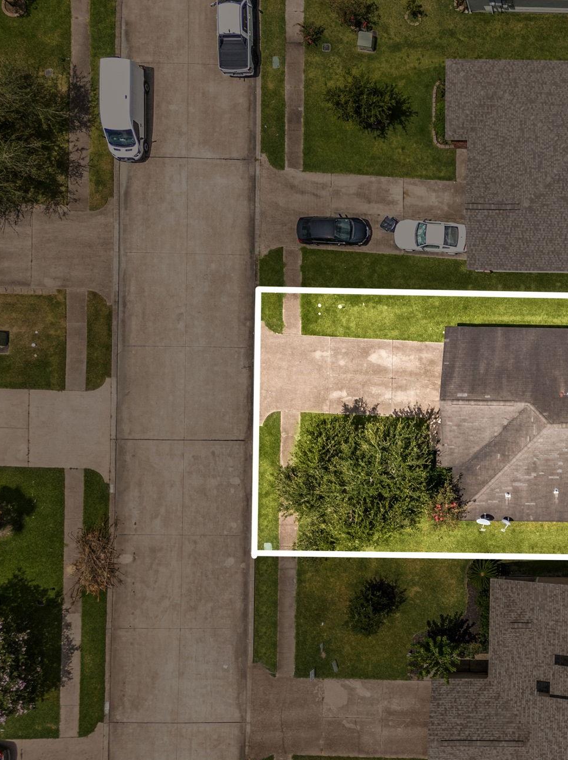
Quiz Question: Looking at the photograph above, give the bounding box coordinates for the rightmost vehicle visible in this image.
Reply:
[394,219,464,256]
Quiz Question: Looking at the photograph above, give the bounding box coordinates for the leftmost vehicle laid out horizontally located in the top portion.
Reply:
[298,214,374,250]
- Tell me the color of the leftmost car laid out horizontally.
black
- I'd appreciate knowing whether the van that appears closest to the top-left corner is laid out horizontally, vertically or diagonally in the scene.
vertically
